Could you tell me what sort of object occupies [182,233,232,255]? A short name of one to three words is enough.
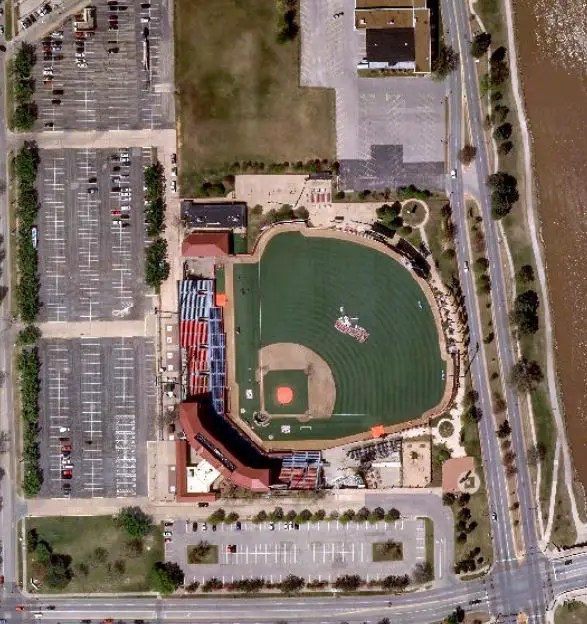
building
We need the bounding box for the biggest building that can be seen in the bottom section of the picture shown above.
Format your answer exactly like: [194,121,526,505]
[177,441,224,503]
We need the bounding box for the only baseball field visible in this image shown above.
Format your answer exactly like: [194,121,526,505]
[216,222,454,450]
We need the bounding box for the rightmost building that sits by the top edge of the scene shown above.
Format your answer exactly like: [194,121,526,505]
[355,0,435,73]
